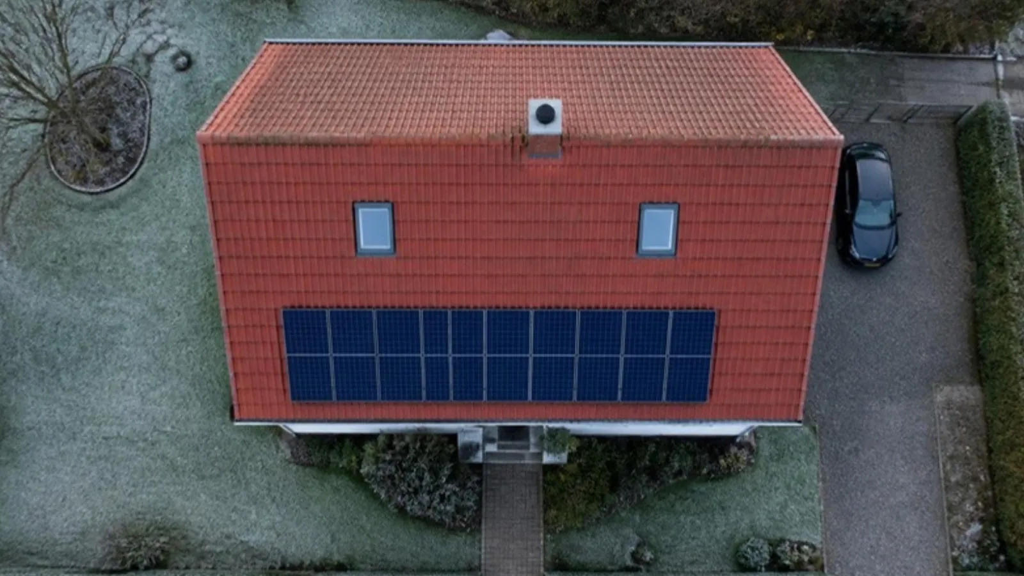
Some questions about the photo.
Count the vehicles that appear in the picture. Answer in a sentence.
The count comes to 1 vehicle.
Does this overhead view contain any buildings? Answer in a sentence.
Yes, a building can be made out from above.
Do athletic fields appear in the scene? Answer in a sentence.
No, there is no athletic field in the image.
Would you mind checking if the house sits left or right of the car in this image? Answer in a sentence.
Looking at the photo, the house lies to the left of the car.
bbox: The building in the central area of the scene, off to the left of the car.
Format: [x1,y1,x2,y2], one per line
[198,38,843,441]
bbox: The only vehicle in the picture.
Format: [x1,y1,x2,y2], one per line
[835,140,905,265]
